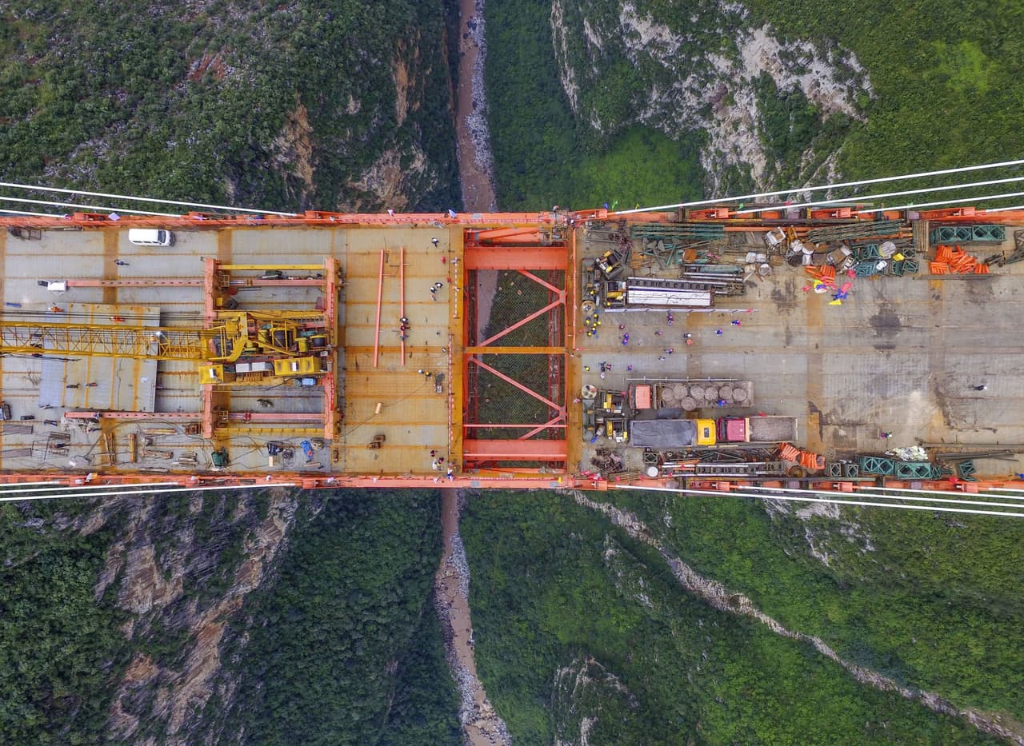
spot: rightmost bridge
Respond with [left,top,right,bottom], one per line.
[571,200,1024,499]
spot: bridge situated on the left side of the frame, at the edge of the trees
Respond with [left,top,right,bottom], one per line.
[0,210,464,489]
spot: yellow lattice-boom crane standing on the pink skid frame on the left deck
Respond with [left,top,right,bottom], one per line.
[0,256,344,442]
